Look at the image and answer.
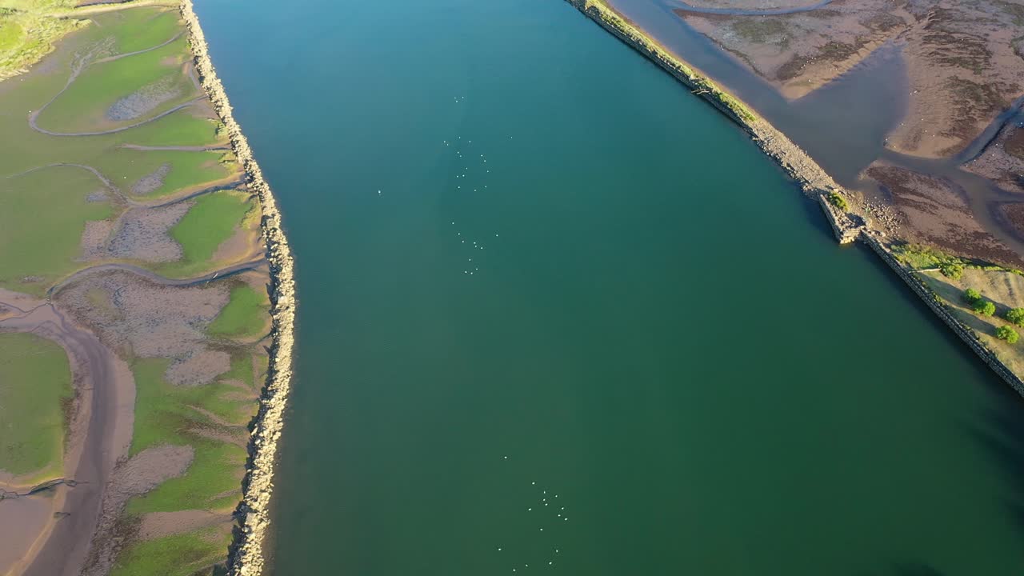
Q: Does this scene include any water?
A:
Yes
